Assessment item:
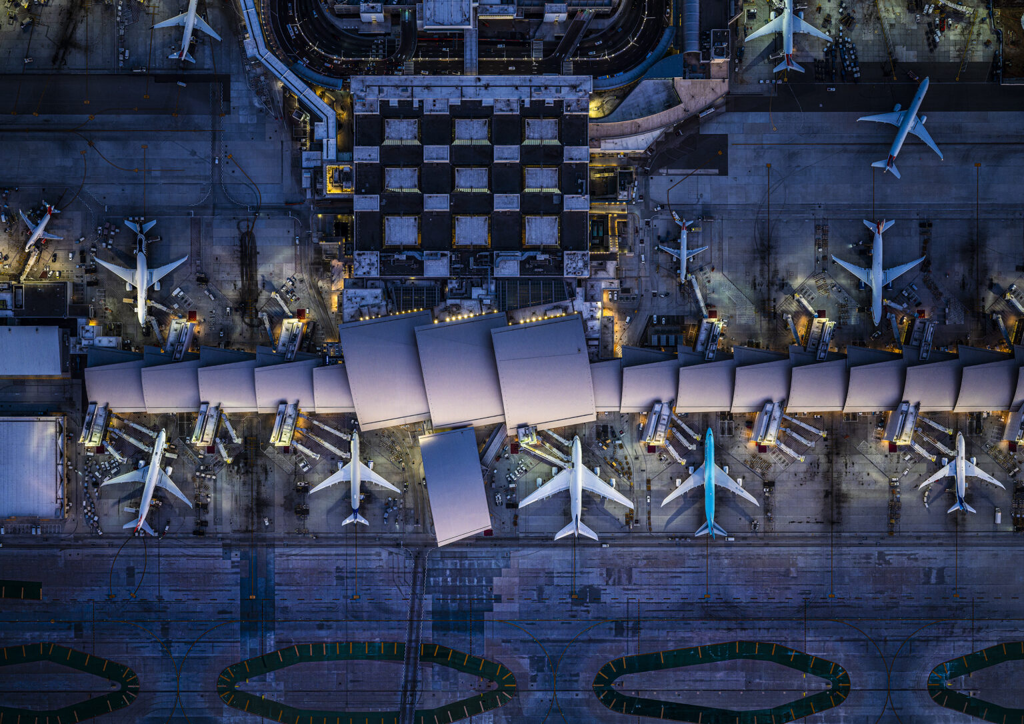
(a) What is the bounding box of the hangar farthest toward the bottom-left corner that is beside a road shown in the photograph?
[0,416,69,520]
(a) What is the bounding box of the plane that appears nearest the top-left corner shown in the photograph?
[152,0,222,62]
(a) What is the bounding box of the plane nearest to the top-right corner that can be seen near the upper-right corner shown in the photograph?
[858,77,941,178]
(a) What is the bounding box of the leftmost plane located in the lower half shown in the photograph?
[102,428,192,535]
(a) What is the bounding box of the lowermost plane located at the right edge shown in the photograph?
[916,431,1007,514]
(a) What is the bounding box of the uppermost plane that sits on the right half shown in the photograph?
[745,0,833,71]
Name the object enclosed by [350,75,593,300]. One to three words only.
building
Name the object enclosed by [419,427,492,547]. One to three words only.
building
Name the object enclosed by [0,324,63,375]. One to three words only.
hangar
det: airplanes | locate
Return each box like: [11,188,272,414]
[832,217,925,327]
[152,0,222,62]
[519,436,635,542]
[745,0,833,71]
[661,427,759,539]
[102,428,192,535]
[94,218,187,326]
[658,219,708,284]
[858,77,941,178]
[916,431,1007,514]
[308,429,401,527]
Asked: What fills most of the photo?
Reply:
paved ground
